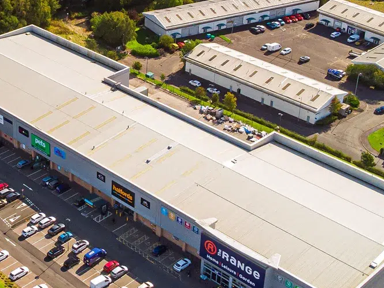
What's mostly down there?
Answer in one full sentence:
Most of the picture is covered by buildings.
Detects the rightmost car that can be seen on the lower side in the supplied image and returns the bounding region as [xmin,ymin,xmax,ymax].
[173,260,191,272]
